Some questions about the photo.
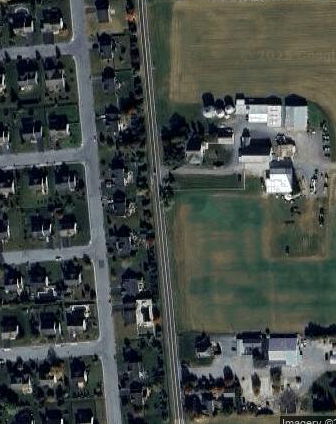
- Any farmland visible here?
Yes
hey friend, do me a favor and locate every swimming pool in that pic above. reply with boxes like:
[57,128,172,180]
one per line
[138,301,152,320]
